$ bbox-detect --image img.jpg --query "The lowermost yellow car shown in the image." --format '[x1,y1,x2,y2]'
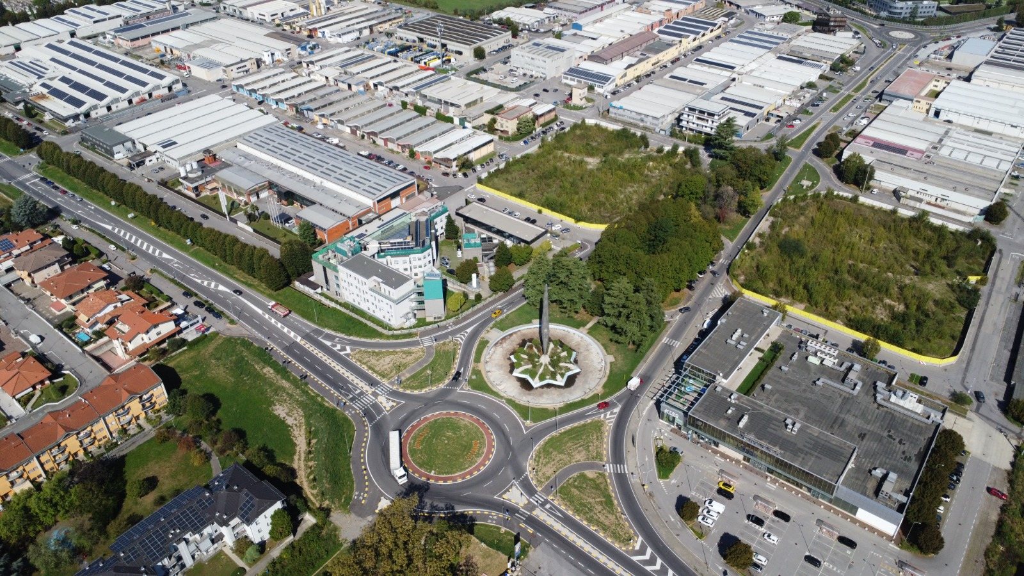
[718,481,736,494]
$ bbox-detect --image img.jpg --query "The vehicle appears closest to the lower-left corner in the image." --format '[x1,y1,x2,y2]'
[27,332,41,345]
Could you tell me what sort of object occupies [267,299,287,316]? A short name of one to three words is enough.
vehicle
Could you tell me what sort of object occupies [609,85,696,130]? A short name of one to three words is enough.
building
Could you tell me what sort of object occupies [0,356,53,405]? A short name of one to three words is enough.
house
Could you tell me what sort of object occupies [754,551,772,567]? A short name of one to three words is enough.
car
